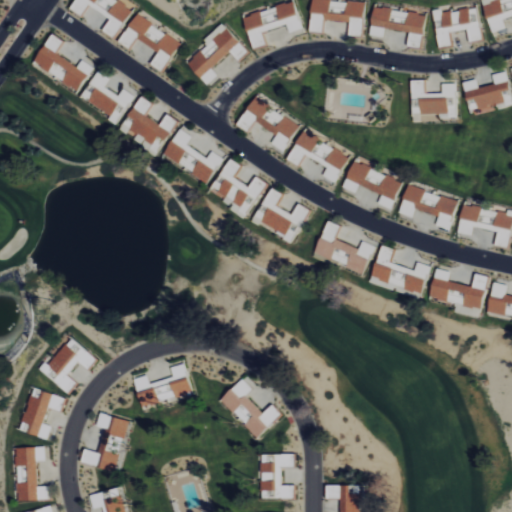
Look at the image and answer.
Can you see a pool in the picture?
Yes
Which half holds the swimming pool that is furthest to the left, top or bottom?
bottom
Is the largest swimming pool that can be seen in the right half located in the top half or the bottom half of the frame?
top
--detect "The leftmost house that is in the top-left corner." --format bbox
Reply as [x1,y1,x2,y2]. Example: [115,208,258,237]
[33,34,91,92]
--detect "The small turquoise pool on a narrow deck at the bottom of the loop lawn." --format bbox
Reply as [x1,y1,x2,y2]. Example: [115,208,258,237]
[166,471,211,512]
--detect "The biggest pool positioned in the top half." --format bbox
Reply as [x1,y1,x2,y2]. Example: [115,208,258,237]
[326,78,374,123]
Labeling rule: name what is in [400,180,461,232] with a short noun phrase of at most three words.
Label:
house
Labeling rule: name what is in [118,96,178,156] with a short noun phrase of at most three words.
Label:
house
